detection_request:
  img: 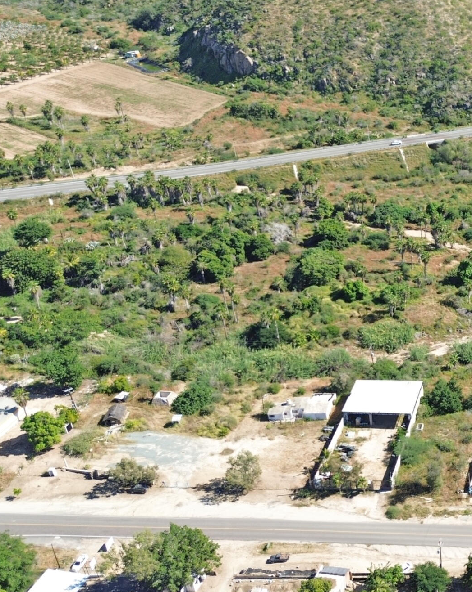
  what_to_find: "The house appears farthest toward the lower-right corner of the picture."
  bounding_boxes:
[318,566,350,592]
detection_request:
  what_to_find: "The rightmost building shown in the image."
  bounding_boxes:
[342,380,422,428]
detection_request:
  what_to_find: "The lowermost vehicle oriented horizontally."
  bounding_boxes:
[265,553,290,565]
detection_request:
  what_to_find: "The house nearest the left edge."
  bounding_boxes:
[0,398,21,437]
